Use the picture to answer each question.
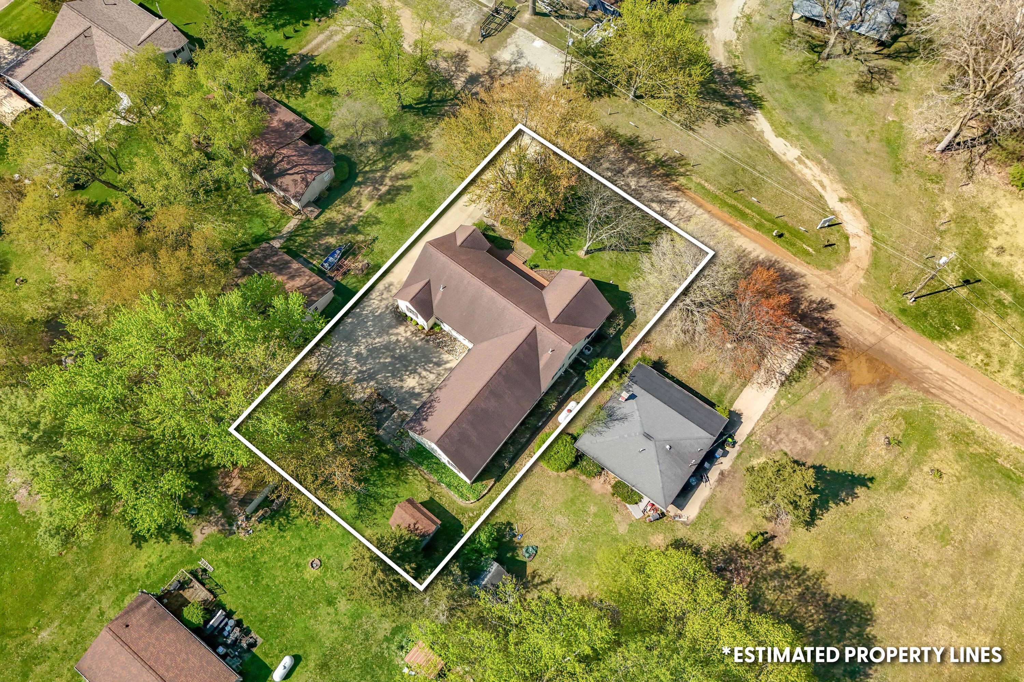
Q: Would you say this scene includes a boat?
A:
Yes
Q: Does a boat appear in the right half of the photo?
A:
No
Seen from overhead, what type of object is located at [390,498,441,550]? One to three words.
shed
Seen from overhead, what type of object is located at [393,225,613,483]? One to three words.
house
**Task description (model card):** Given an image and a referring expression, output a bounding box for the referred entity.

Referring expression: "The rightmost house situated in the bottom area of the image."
[574,358,730,511]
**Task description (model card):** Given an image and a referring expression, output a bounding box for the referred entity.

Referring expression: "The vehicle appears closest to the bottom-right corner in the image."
[723,438,736,454]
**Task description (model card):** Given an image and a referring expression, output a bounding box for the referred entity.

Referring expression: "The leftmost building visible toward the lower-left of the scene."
[76,592,247,682]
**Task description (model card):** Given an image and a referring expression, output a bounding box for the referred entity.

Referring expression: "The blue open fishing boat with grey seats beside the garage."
[314,238,345,271]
